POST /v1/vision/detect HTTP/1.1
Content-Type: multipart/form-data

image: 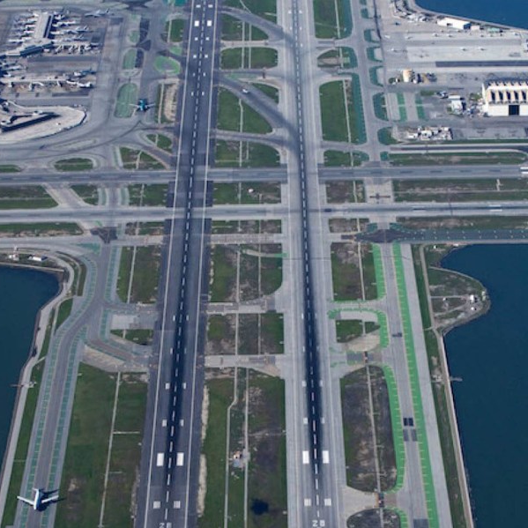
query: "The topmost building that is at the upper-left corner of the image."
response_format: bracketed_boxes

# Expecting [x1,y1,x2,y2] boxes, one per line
[24,12,63,39]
